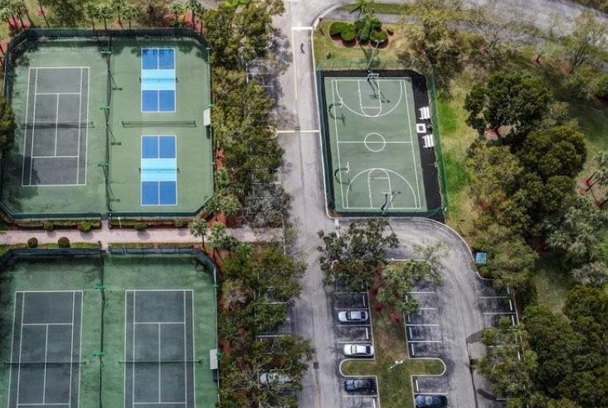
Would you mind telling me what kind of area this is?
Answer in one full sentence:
This looks like a sports ground.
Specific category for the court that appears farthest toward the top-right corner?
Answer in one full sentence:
In the photo, the court that appears farthest toward the top-right corner shows up as a basketball court.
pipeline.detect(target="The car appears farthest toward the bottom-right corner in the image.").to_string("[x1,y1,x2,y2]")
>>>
[415,394,446,408]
